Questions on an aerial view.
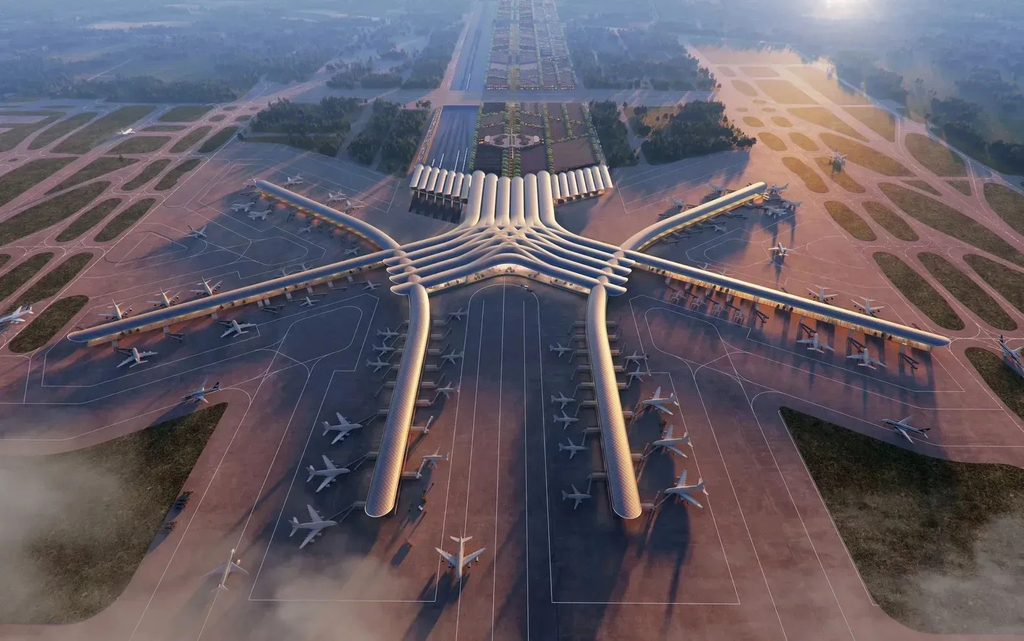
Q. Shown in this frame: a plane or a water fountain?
plane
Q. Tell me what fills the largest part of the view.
paved ground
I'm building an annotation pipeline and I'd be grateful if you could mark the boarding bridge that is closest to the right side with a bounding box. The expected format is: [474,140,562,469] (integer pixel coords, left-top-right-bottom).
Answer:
[901,342,920,367]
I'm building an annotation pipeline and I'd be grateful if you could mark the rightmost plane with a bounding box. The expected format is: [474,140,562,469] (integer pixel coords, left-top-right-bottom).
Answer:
[991,339,1024,367]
